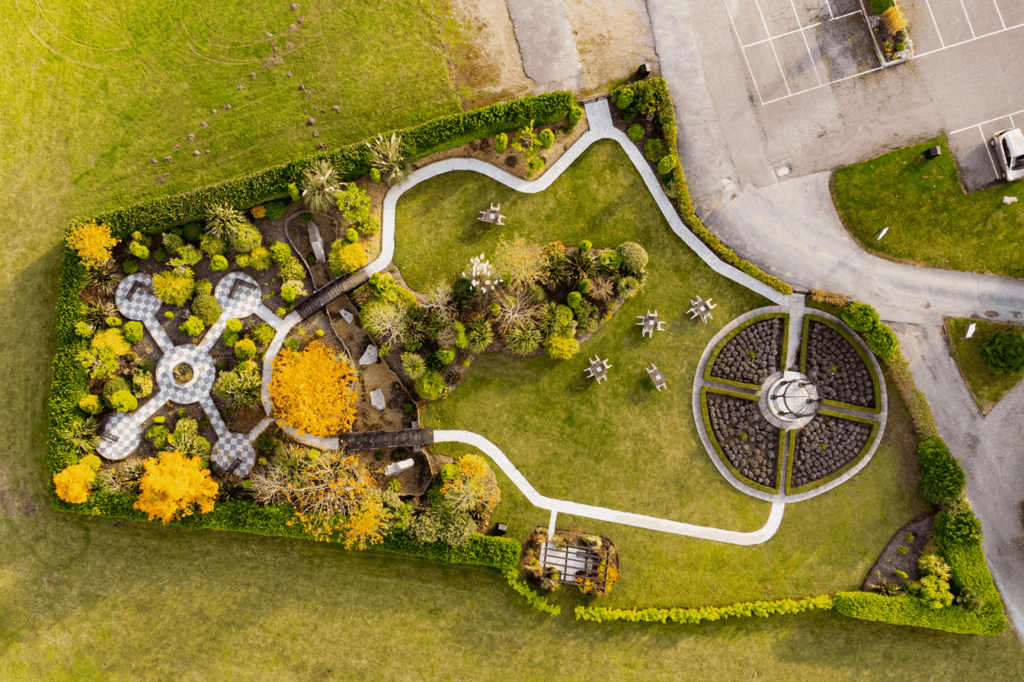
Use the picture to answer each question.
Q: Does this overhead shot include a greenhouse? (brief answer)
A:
No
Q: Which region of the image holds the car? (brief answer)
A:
top right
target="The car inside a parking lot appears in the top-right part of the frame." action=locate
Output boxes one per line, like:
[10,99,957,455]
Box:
[989,127,1024,180]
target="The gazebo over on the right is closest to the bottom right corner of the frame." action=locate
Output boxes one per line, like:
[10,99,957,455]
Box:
[761,369,825,430]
